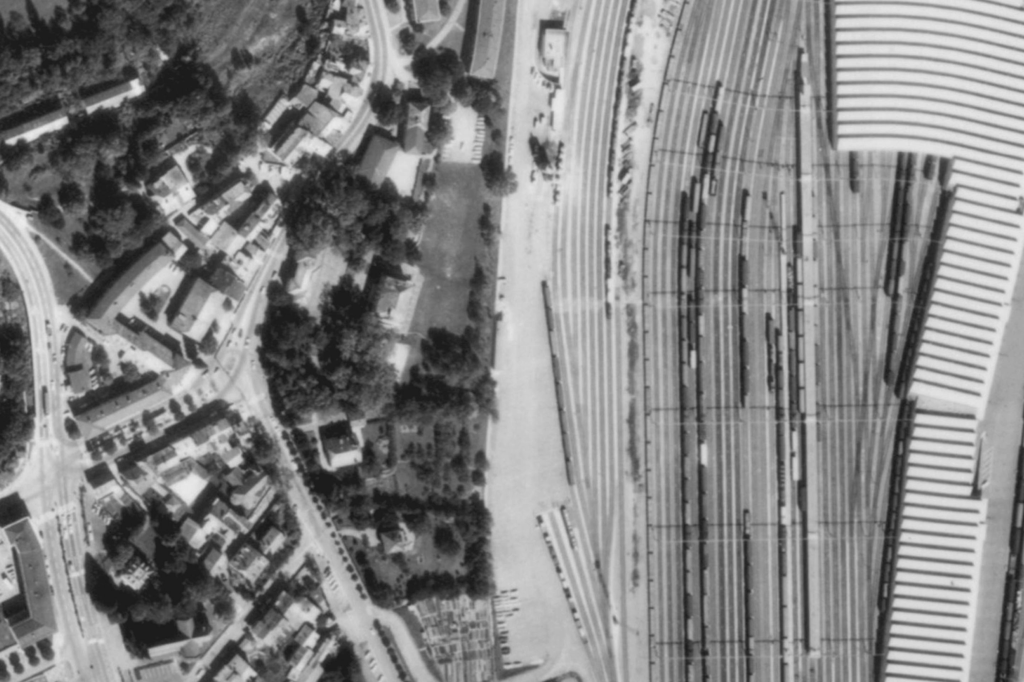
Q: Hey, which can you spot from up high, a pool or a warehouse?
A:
warehouse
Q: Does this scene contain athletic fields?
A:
Yes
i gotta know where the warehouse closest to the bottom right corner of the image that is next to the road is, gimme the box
[877,409,988,682]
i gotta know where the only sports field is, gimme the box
[409,162,483,339]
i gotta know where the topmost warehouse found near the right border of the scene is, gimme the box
[838,0,1024,172]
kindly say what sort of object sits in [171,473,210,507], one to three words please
building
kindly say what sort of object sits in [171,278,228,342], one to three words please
building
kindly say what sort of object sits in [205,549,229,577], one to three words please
house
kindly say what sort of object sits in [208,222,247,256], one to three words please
house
